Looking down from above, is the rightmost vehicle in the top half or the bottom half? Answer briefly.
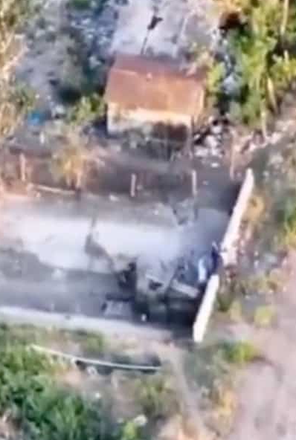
bottom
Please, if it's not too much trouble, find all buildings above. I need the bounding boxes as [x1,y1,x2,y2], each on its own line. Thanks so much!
[94,0,222,62]
[104,64,205,146]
